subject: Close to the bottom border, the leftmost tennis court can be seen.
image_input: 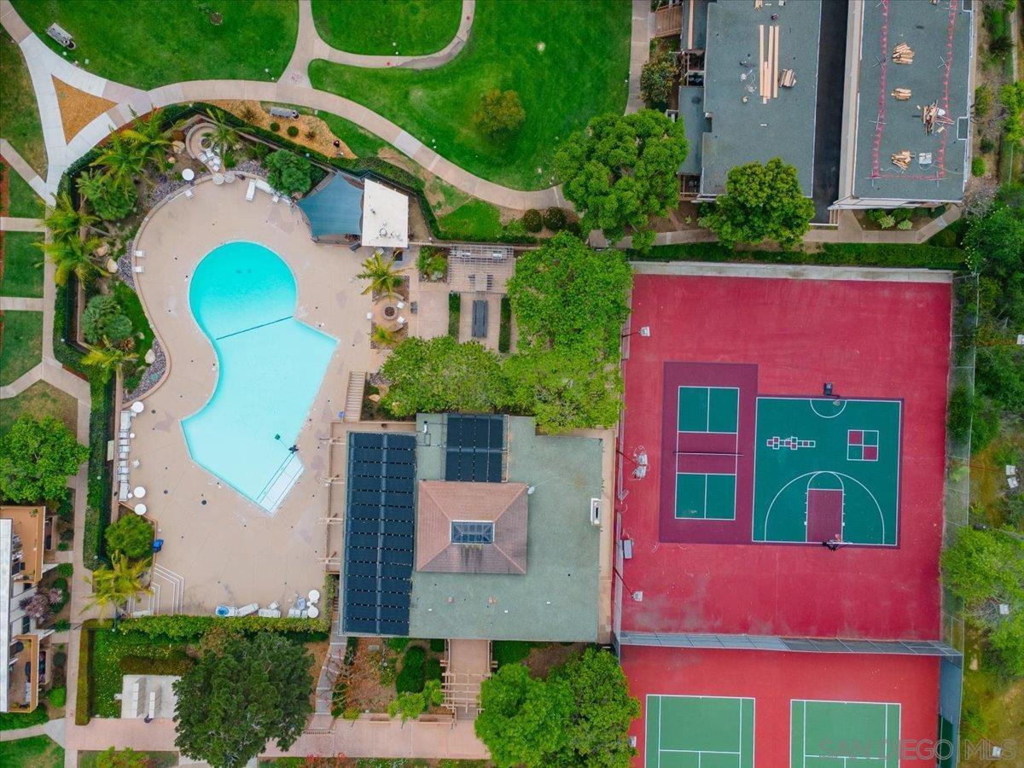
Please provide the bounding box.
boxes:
[644,695,756,768]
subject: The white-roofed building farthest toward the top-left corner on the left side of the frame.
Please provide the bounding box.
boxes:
[361,178,411,250]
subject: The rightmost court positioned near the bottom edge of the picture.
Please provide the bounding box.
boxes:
[789,700,901,768]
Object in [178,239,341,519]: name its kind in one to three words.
swimming pool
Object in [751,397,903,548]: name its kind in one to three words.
basketball court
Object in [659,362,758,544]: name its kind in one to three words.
sports court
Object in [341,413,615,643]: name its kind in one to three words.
building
